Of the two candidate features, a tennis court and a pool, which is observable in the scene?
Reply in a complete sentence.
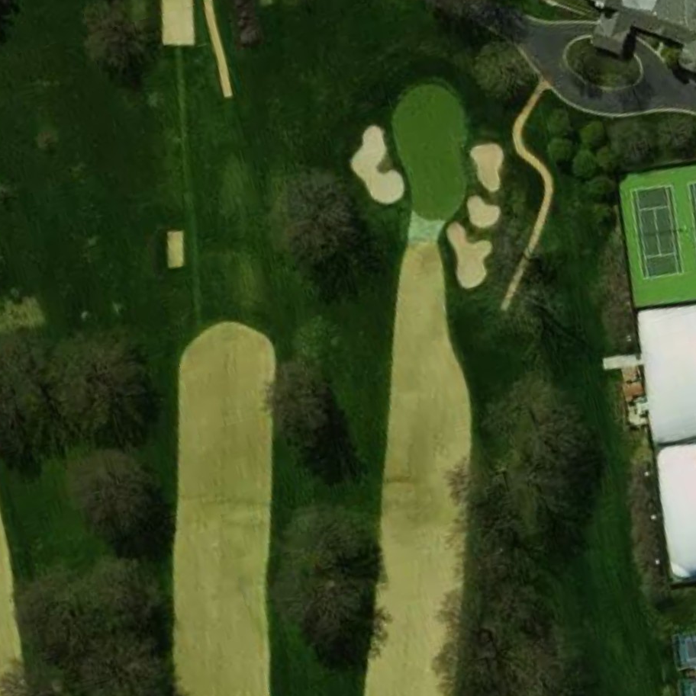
I can see a tennis court in this picture.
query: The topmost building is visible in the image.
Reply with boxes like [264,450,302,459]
[577,0,696,76]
